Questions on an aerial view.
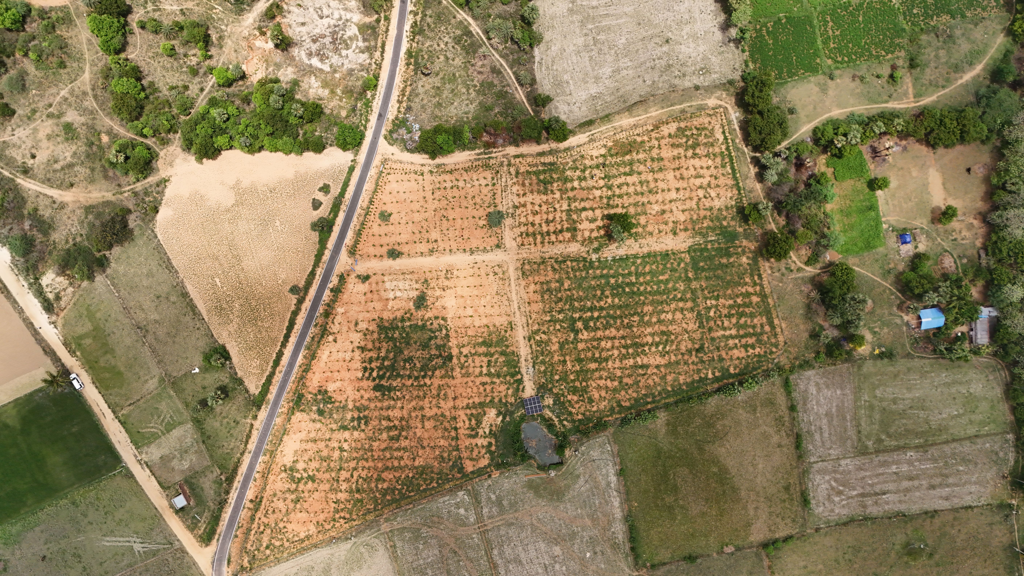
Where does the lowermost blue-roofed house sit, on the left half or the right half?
right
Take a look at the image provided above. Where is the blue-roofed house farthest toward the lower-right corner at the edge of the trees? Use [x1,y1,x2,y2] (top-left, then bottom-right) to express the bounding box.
[912,308,945,330]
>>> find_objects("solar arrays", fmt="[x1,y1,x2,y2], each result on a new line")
[523,396,543,415]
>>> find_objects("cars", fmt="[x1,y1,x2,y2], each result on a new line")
[68,374,83,390]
